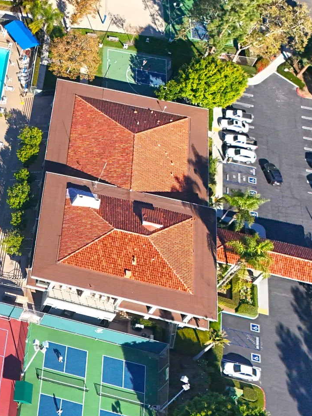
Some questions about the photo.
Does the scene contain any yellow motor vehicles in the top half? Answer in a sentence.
No, in the top half there is no yellow motor vehicle.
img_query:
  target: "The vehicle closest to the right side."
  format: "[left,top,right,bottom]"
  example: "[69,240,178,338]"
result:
[260,163,285,186]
